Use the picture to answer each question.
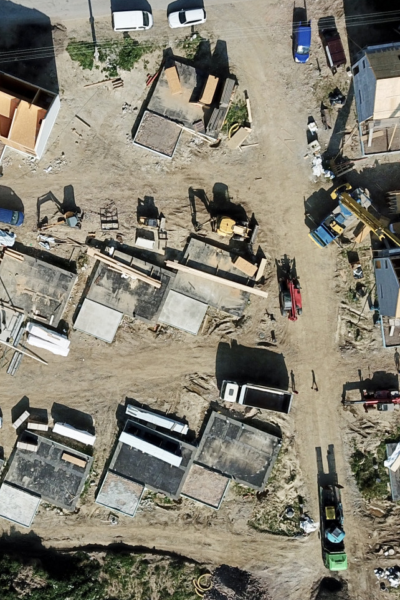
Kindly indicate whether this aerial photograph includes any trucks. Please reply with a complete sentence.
Yes, there is a truck in the image.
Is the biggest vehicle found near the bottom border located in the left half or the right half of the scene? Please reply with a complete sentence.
The biggest vehicle found near the bottom border is on the right side of the image.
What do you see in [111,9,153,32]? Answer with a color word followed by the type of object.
white vehicle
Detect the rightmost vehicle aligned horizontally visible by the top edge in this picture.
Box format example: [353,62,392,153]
[166,8,207,29]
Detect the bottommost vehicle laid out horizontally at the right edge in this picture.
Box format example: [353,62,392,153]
[340,390,400,411]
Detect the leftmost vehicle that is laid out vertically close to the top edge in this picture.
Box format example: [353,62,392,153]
[292,16,311,62]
